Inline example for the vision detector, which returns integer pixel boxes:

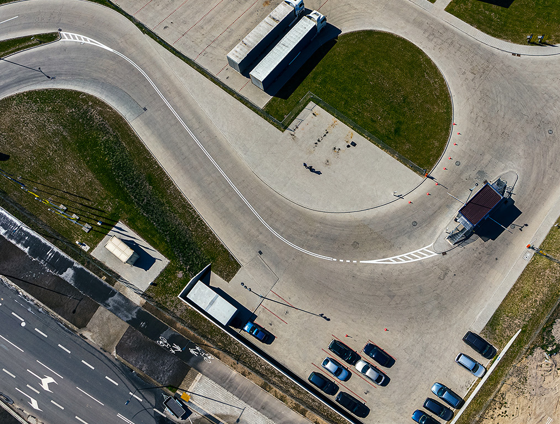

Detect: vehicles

[229,0,304,76]
[355,356,386,388]
[245,319,271,344]
[309,368,339,398]
[251,16,326,94]
[301,158,315,170]
[328,335,358,366]
[366,341,394,370]
[432,379,465,413]
[412,405,443,424]
[424,394,453,422]
[335,387,369,420]
[321,353,349,382]
[463,327,497,360]
[456,349,485,378]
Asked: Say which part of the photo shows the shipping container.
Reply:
left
